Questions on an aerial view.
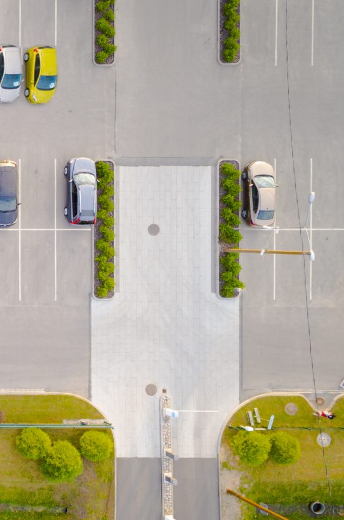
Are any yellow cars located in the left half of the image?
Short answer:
Yes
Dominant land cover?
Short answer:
paved ground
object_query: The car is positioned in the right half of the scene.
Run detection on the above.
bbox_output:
[242,160,278,227]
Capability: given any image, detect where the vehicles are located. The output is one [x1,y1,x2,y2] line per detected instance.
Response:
[65,158,99,225]
[0,46,21,103]
[0,160,21,227]
[242,160,278,227]
[25,47,56,104]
